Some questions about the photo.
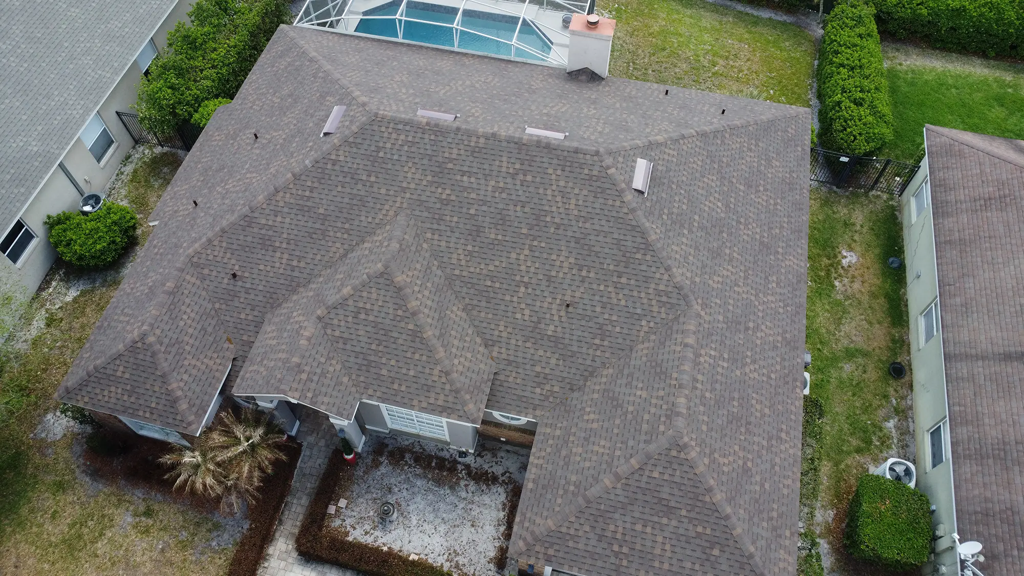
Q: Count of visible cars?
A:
0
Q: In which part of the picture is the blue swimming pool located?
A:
top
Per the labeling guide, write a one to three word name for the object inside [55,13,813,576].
house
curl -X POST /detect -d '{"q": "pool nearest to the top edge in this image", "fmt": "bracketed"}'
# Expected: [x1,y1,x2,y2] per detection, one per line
[351,0,553,63]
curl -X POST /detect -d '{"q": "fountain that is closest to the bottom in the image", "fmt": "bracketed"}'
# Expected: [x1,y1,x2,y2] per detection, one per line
[376,498,394,516]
